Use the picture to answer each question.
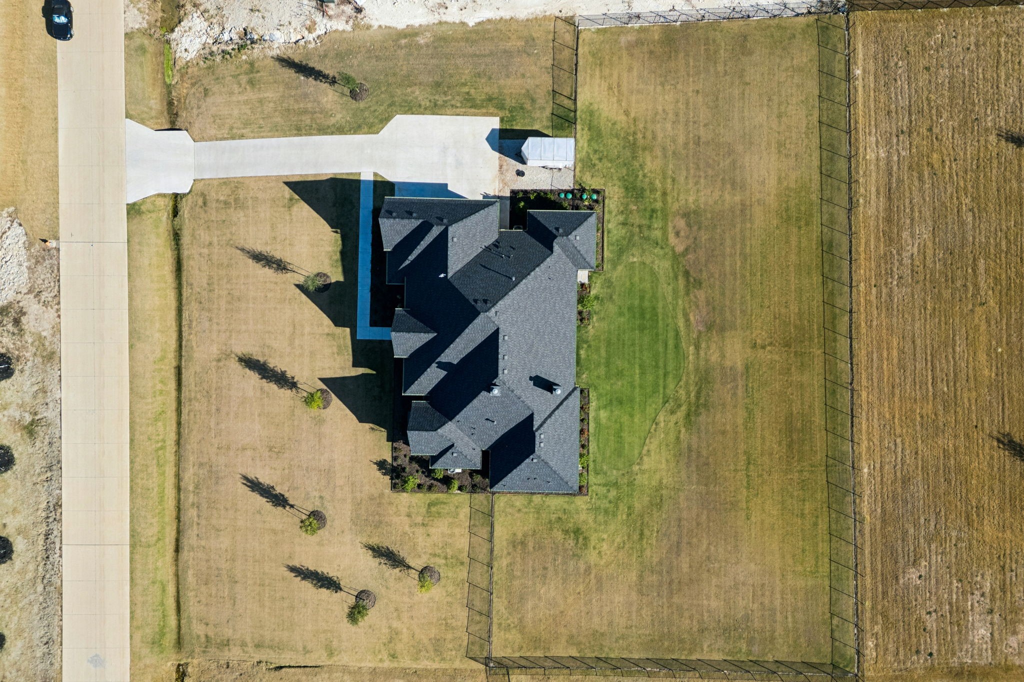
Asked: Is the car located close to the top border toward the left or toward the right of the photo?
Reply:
left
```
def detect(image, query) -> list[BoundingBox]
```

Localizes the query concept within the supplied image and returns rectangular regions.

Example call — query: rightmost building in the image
[379,196,597,494]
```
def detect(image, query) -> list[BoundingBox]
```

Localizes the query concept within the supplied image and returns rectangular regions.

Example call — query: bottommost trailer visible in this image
[512,137,574,168]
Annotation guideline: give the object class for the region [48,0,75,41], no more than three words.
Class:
car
